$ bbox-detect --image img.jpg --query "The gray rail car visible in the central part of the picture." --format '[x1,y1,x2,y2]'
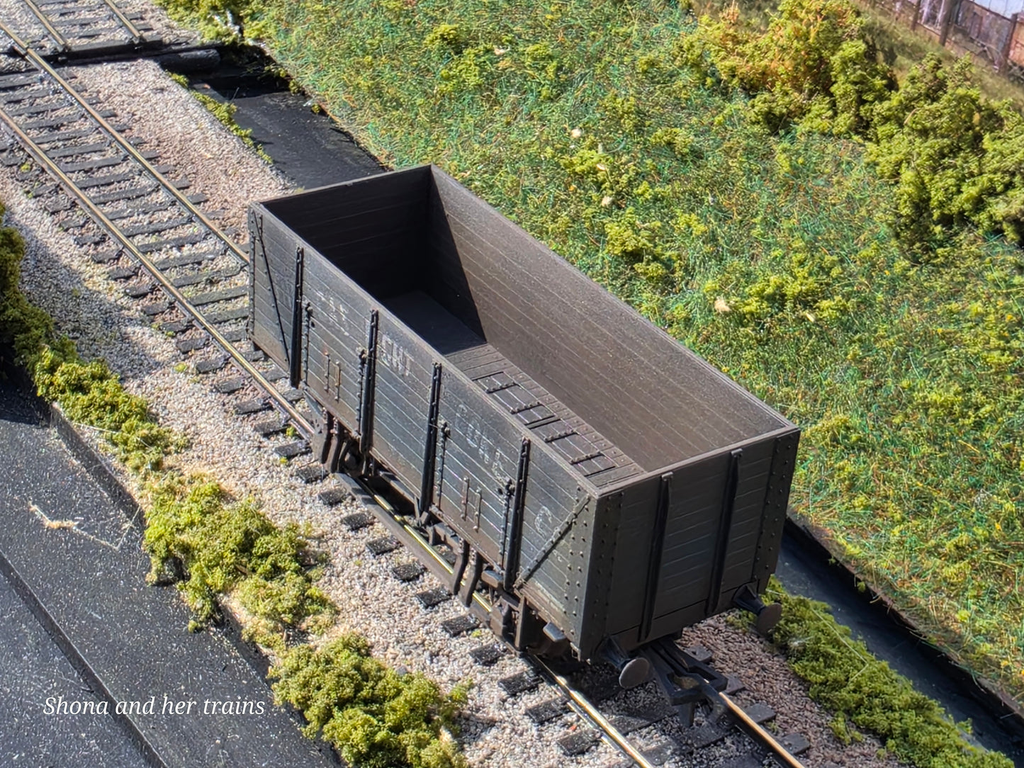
[246,166,798,722]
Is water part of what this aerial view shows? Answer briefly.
No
